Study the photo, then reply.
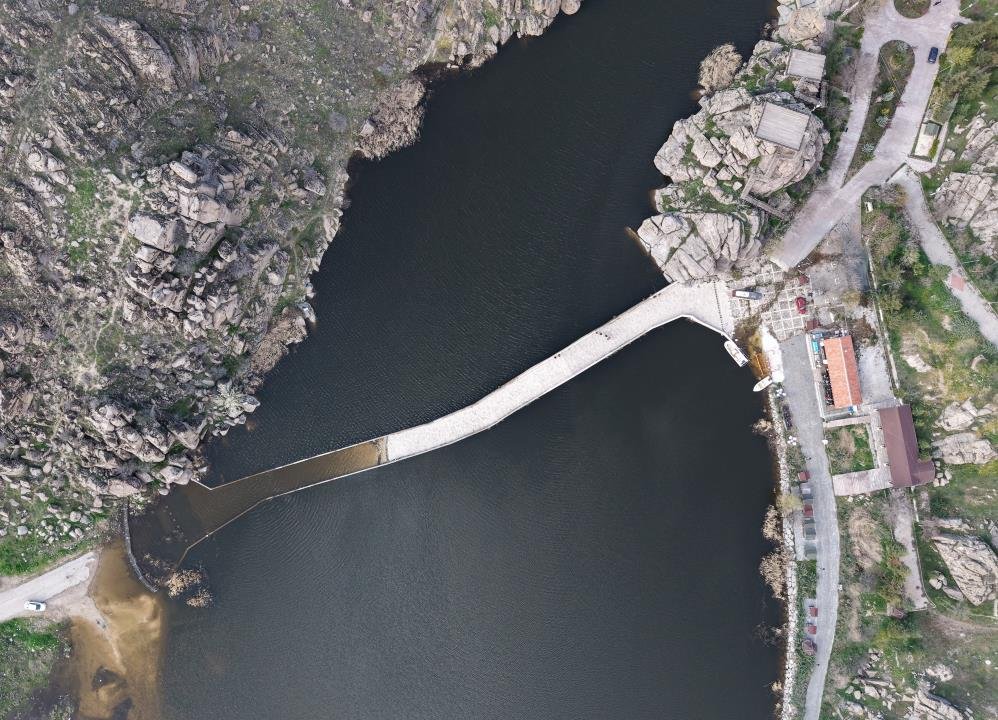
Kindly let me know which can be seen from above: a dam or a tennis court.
dam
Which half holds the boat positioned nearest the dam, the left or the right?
right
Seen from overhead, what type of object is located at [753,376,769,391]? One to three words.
boat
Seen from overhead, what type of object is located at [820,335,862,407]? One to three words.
house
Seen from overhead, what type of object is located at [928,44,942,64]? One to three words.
car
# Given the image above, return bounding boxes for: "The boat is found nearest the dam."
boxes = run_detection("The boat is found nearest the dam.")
[726,343,748,366]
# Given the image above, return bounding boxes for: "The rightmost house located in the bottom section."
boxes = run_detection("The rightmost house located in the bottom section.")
[868,405,939,486]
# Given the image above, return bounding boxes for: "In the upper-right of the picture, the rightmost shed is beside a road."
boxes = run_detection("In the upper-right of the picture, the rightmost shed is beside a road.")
[917,122,940,139]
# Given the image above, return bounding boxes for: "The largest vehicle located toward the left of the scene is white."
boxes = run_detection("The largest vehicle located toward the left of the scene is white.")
[21,601,45,614]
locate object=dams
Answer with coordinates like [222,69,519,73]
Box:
[146,277,733,569]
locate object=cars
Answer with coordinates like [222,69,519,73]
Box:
[21,601,45,614]
[796,295,809,315]
[928,44,942,64]
[950,17,971,32]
